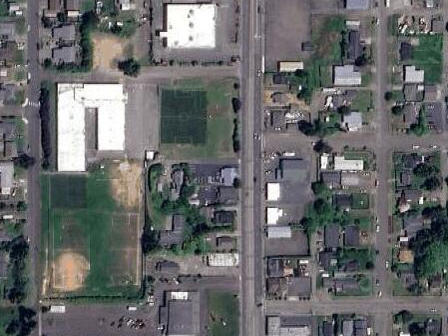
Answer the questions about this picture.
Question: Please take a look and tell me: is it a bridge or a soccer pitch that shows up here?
soccer pitch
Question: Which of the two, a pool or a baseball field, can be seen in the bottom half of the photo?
baseball field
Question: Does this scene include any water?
No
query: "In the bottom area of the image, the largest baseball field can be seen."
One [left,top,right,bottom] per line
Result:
[49,160,142,297]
